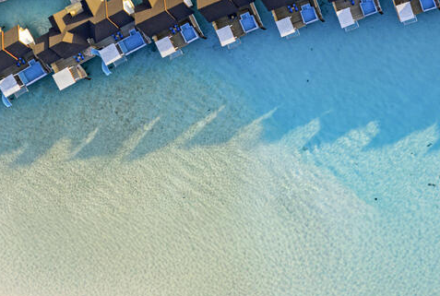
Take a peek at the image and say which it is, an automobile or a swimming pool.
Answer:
swimming pool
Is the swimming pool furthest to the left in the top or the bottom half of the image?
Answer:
top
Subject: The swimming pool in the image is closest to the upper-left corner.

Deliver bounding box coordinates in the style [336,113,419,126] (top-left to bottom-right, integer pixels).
[18,65,48,92]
